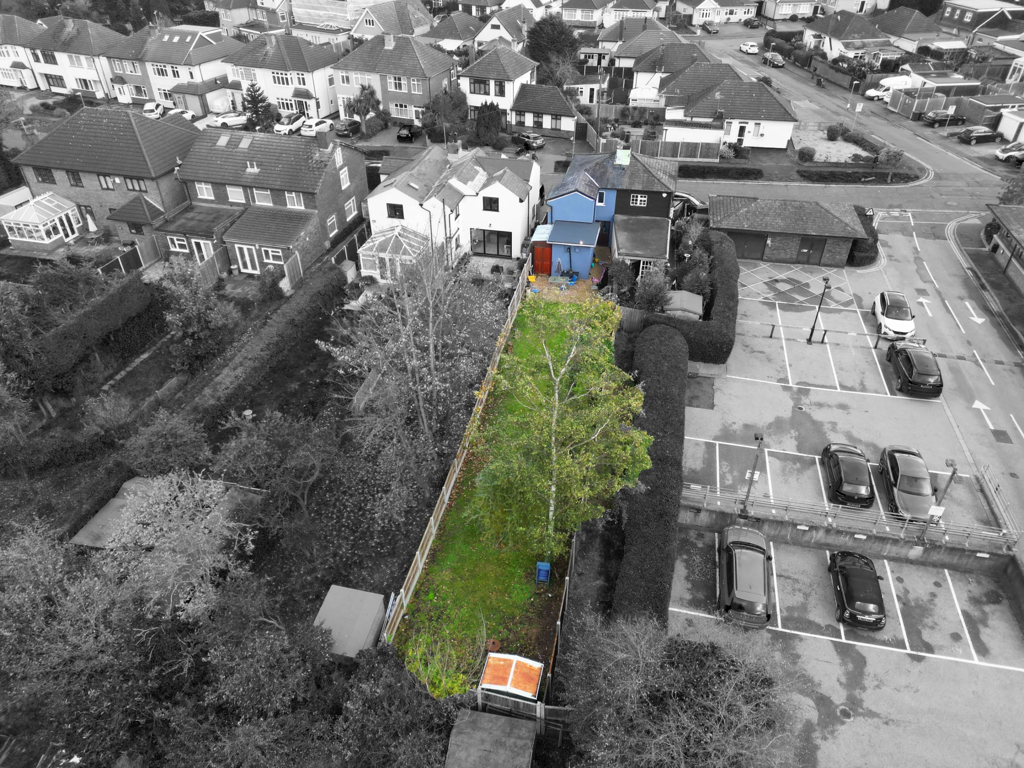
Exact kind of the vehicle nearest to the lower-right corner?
automobile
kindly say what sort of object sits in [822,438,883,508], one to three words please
car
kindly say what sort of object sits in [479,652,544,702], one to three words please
shed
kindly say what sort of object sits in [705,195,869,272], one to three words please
shed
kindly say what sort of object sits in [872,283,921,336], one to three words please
car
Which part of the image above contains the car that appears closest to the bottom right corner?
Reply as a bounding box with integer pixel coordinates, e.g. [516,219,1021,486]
[829,544,894,628]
